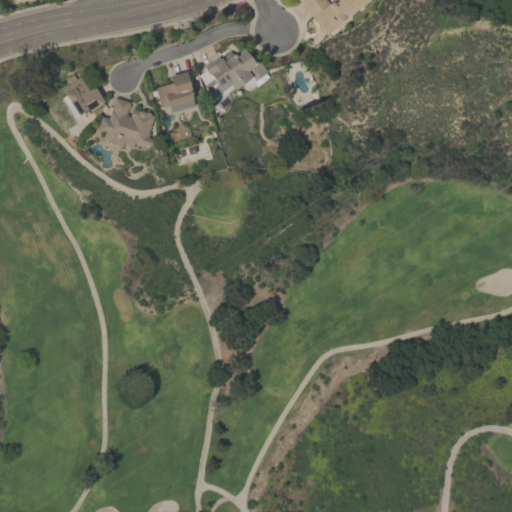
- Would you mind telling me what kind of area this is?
golf course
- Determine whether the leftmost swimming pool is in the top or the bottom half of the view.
top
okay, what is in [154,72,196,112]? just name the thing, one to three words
house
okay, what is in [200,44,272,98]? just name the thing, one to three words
house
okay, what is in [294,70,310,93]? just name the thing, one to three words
swimming pool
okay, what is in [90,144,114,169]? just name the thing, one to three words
swimming pool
